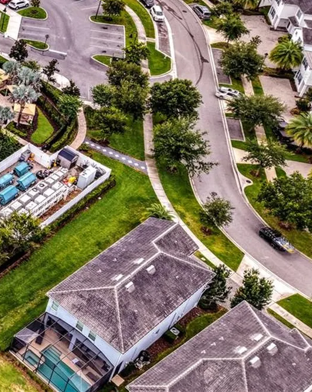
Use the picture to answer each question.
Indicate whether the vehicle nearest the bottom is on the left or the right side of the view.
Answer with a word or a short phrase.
right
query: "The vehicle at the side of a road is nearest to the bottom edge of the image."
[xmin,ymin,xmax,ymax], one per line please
[246,215,301,252]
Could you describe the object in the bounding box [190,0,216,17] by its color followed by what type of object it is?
gray car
